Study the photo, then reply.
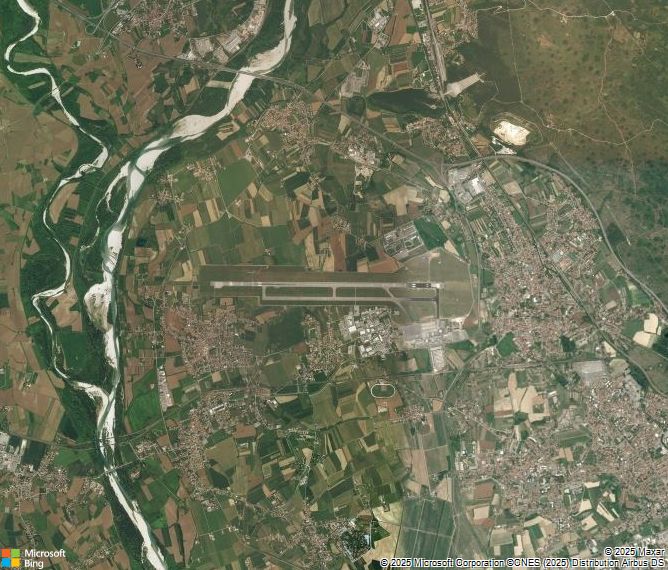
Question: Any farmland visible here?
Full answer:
Yes, the picture does contain farmland.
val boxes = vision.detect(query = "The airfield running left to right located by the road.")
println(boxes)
[200,247,474,348]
